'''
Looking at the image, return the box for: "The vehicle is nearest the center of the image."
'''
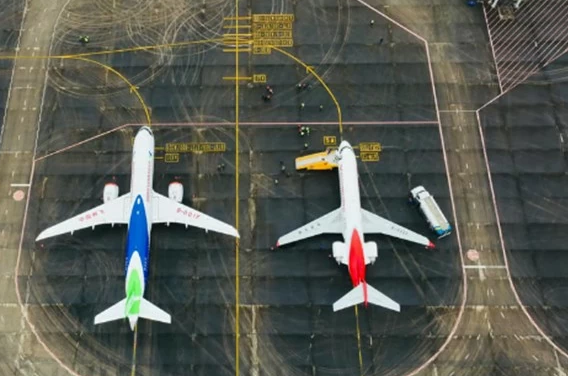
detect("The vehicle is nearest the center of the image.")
[295,152,337,172]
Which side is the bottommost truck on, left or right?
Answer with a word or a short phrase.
right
